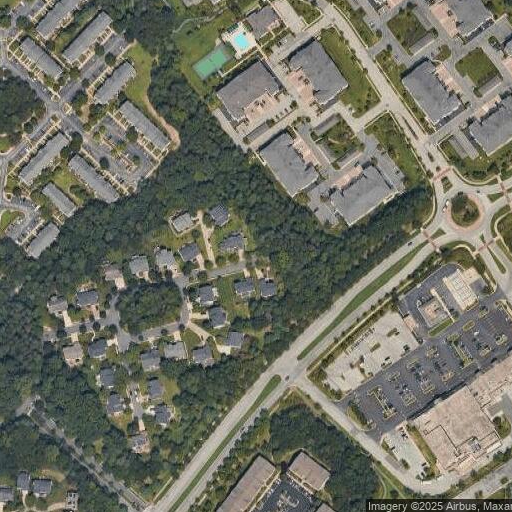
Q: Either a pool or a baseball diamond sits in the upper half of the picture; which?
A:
pool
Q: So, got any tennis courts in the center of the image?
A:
No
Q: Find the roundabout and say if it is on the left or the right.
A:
right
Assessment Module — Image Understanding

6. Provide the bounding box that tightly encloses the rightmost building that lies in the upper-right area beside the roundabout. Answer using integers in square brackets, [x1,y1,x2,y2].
[469,96,512,155]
